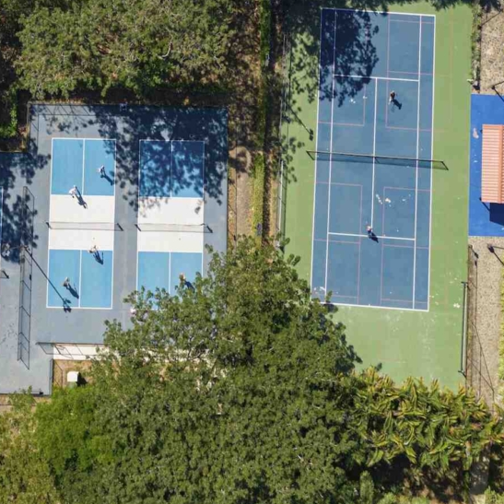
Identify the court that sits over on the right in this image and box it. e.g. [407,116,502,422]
[275,0,477,409]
